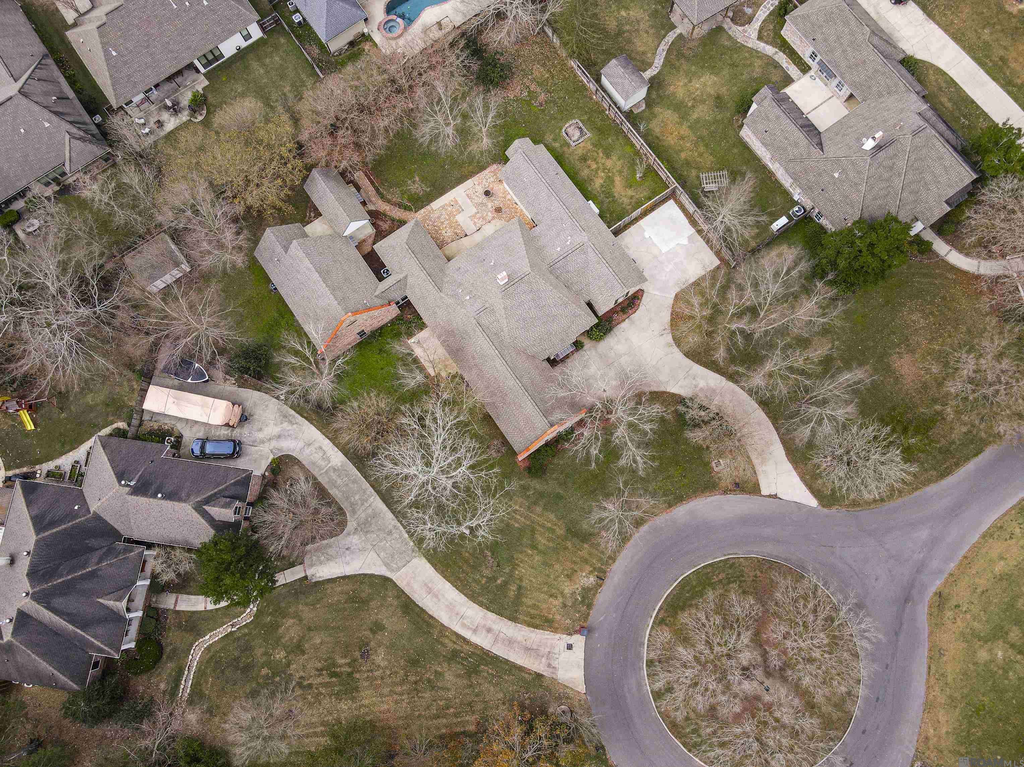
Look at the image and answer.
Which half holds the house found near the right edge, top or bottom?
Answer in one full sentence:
The house found near the right edge is in the top half of the image.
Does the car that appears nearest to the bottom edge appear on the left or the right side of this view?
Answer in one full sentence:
The car that appears nearest to the bottom edge appears in the left half of the scene.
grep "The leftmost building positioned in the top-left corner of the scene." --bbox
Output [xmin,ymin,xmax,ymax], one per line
[0,0,118,223]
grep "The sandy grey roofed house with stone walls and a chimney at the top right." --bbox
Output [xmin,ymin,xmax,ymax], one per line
[739,0,981,235]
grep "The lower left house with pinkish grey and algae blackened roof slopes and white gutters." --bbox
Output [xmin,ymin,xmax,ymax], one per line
[0,434,258,691]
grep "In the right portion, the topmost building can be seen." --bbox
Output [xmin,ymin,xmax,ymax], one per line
[669,0,738,37]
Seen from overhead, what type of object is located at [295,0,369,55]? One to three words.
building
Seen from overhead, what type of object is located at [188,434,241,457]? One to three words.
car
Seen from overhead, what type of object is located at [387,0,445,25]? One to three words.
swimming pool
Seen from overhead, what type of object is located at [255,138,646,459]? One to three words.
house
